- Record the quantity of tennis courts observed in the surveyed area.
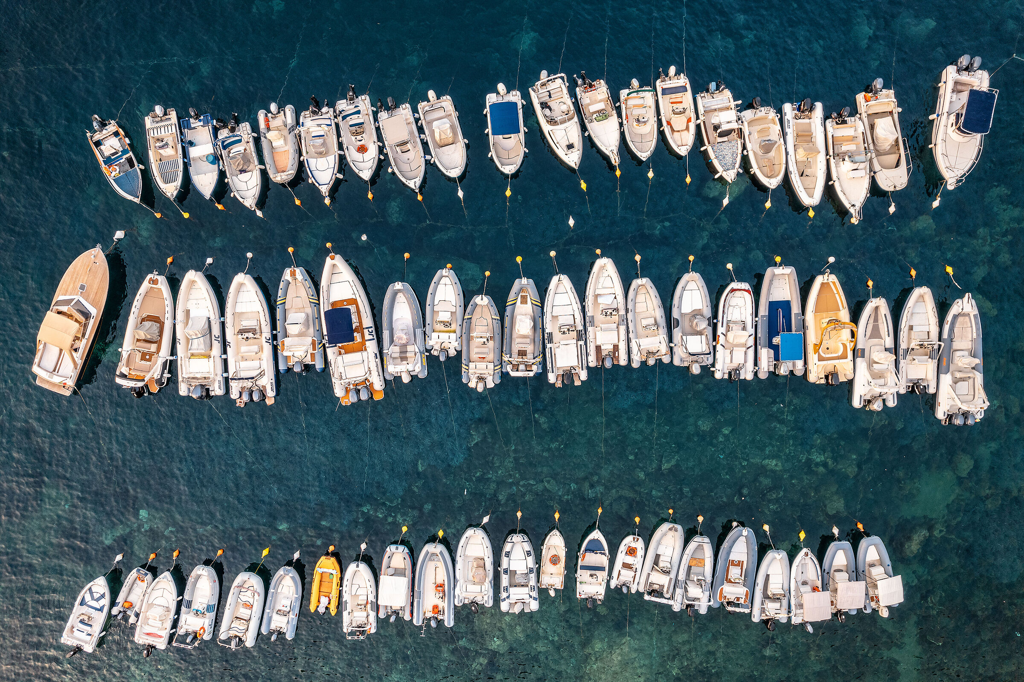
zero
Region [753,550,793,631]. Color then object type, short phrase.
white boat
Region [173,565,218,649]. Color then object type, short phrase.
white boat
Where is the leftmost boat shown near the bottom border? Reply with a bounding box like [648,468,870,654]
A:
[62,576,113,660]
